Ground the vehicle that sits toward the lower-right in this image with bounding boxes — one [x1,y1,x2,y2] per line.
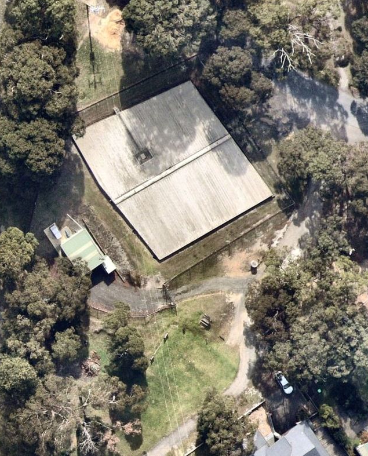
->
[278,380,292,394]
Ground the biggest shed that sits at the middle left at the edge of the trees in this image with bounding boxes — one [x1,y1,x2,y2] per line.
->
[61,229,105,270]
